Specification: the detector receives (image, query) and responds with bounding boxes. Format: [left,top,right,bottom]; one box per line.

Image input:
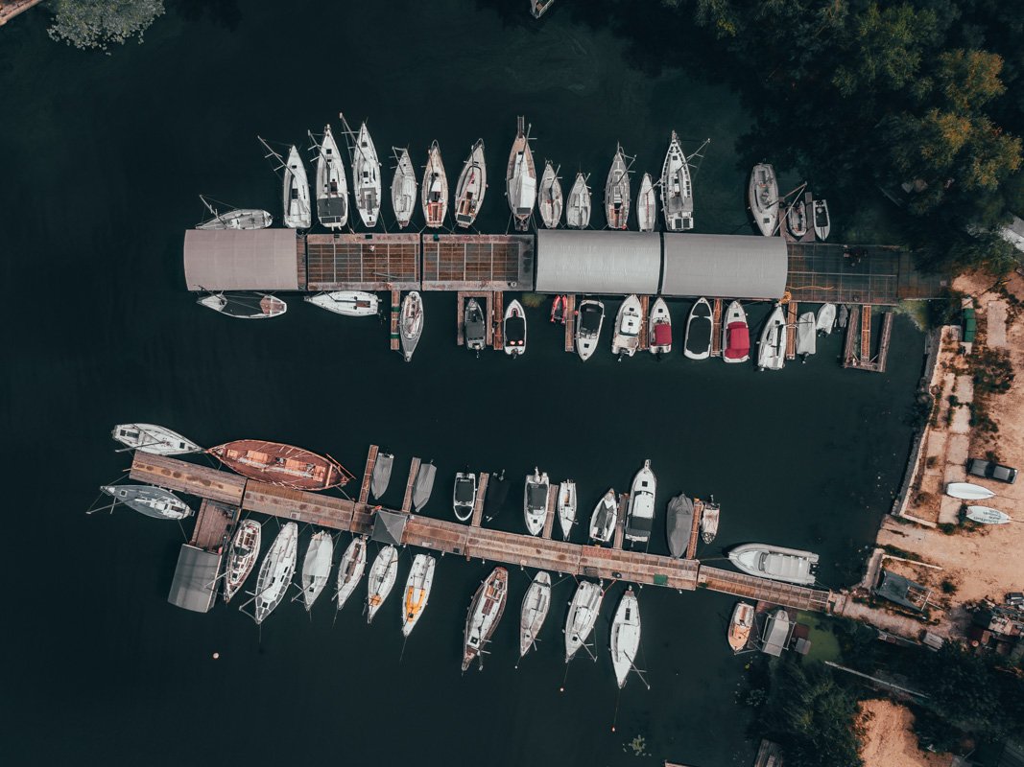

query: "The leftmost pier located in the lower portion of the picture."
[129,450,248,507]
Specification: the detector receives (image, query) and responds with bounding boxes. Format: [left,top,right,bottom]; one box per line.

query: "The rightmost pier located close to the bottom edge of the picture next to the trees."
[752,738,777,767]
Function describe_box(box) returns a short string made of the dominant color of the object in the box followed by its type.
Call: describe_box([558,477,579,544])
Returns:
white boat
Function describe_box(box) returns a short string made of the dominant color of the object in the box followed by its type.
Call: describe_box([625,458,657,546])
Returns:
white boat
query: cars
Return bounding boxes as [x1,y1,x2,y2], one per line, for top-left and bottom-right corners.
[964,457,1019,485]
